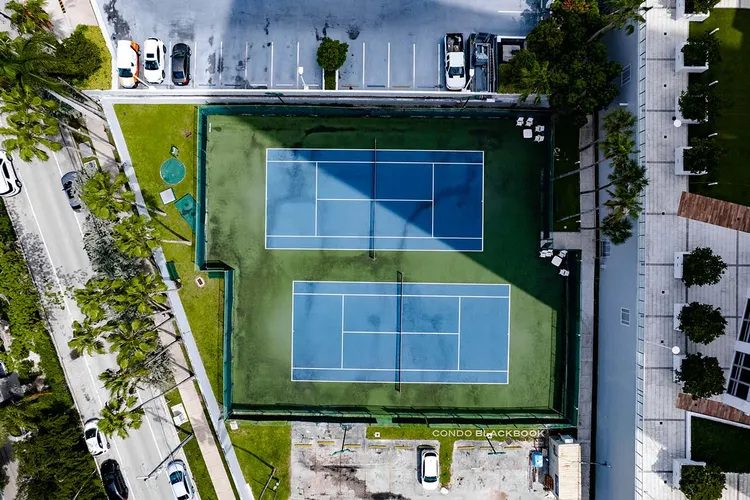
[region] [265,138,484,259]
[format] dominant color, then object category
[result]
blue tennis court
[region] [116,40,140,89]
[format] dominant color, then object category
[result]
white car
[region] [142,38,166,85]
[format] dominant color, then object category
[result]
white car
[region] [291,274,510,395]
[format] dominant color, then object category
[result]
blue tennis court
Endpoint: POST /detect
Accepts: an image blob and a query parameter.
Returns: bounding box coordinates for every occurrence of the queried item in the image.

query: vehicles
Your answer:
[169,45,191,87]
[467,32,495,92]
[142,38,166,85]
[59,170,88,213]
[82,415,112,457]
[116,40,140,89]
[100,460,131,500]
[168,460,197,500]
[419,444,439,488]
[444,34,466,92]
